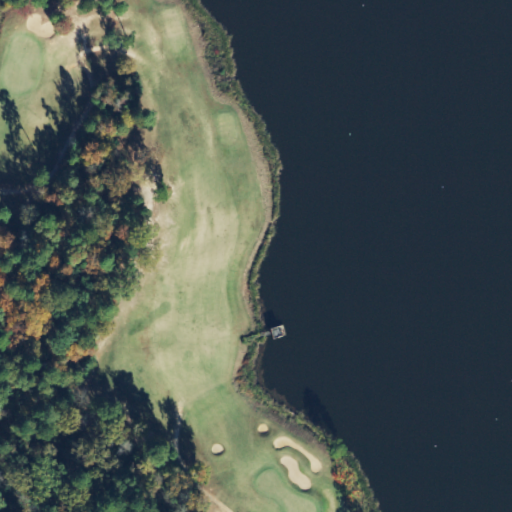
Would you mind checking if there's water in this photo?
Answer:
Yes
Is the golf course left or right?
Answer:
left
